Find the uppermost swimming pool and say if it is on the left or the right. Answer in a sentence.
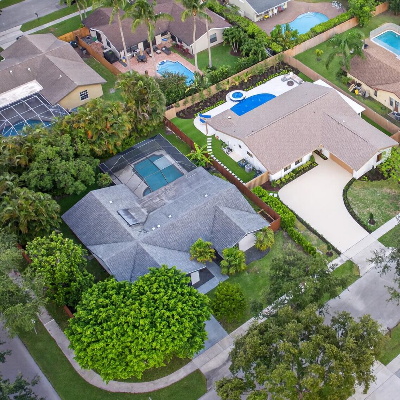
The uppermost swimming pool sits on the right side.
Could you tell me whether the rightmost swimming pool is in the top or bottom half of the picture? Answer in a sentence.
It is in the top half that the rightmost swimming pool appears.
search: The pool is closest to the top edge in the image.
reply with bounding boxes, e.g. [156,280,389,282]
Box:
[289,10,329,33]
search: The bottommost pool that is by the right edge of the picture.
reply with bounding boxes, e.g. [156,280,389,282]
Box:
[367,29,400,58]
